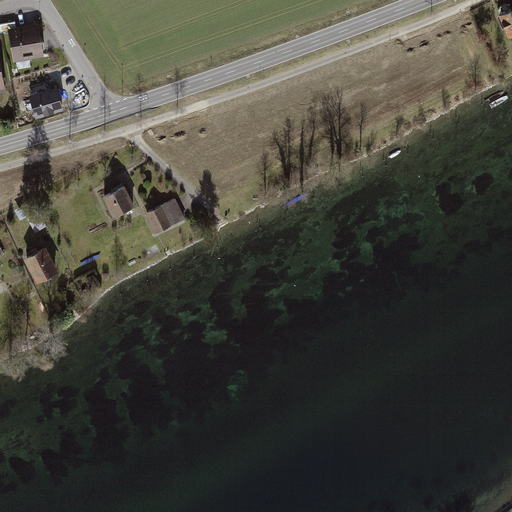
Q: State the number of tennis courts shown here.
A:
zero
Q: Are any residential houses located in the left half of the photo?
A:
Yes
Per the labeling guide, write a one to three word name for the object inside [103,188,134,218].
house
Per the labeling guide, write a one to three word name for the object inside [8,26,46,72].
house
